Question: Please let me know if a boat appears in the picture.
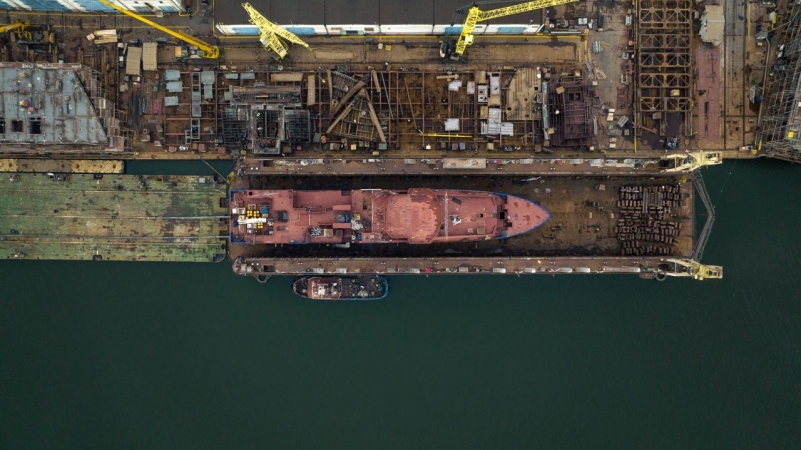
Yes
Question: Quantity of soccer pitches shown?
none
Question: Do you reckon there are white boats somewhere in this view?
No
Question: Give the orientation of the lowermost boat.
from left to right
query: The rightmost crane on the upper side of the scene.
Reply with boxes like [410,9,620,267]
[657,149,724,172]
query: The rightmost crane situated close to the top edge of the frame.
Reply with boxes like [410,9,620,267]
[440,0,586,64]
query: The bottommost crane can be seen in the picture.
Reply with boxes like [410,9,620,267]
[657,256,724,280]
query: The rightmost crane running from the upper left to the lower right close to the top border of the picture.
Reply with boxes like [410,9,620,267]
[238,0,312,67]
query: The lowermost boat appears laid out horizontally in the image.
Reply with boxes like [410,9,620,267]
[293,275,389,301]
